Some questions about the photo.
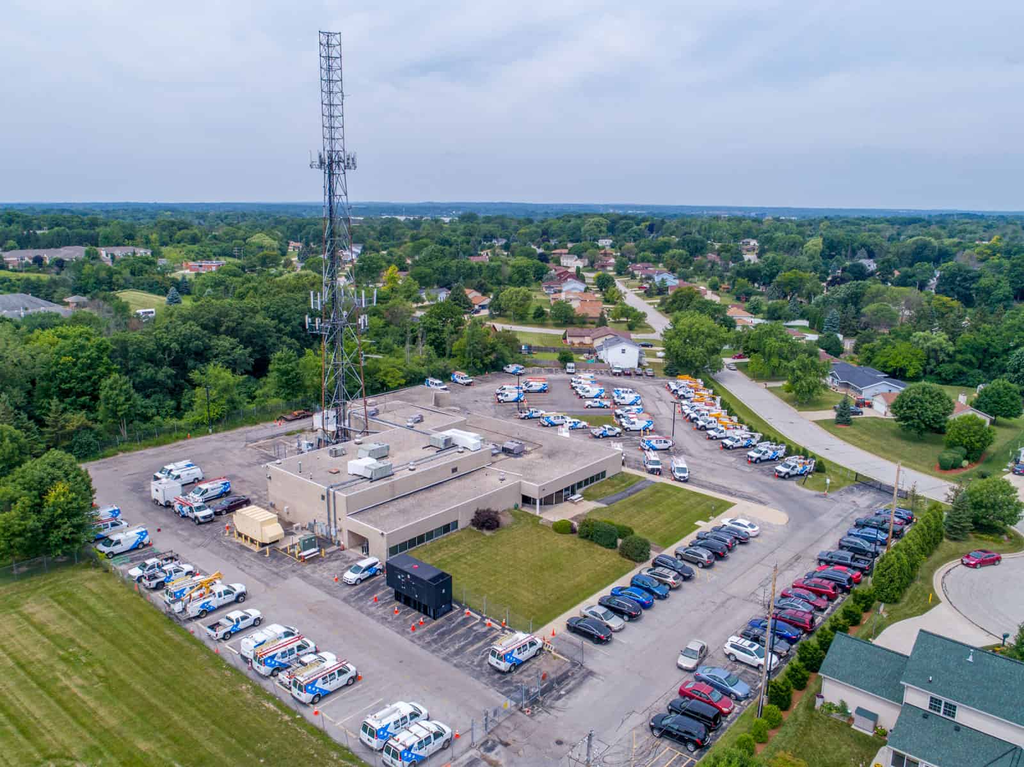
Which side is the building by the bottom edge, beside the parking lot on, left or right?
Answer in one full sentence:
The building by the bottom edge, beside the parking lot sits on the right side.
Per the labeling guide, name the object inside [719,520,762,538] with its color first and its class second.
white car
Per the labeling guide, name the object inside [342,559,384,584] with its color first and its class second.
white car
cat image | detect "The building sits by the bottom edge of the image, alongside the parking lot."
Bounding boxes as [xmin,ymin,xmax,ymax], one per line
[818,631,1024,767]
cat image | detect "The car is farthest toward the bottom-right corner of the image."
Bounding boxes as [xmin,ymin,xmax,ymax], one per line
[959,551,1003,570]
